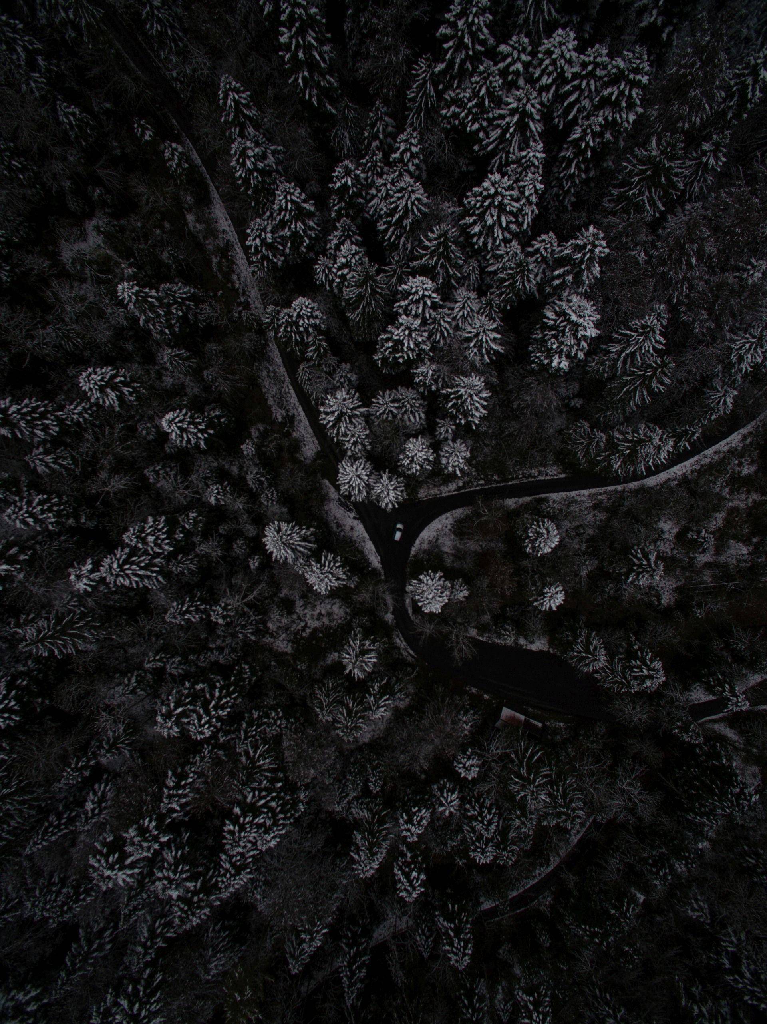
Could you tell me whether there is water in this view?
No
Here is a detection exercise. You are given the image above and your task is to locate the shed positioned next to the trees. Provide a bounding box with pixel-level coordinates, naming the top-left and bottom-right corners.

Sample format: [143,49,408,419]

[495,706,541,743]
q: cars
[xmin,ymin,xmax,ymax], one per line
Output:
[393,522,405,542]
